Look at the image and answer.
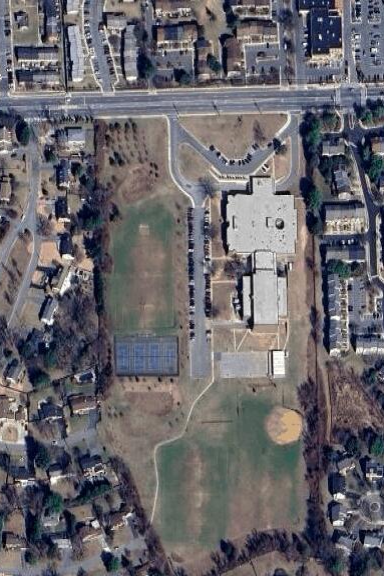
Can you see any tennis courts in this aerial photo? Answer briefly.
Yes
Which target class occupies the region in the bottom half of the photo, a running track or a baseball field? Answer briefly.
baseball field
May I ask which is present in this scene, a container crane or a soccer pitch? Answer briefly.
soccer pitch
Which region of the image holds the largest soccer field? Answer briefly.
bottom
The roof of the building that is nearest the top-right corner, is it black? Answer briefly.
Yes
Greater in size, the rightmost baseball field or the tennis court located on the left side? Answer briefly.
the tennis court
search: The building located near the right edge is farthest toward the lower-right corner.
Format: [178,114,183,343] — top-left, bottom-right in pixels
[362,532,384,551]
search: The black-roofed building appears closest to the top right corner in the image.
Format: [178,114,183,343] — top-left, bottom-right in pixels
[299,0,343,58]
